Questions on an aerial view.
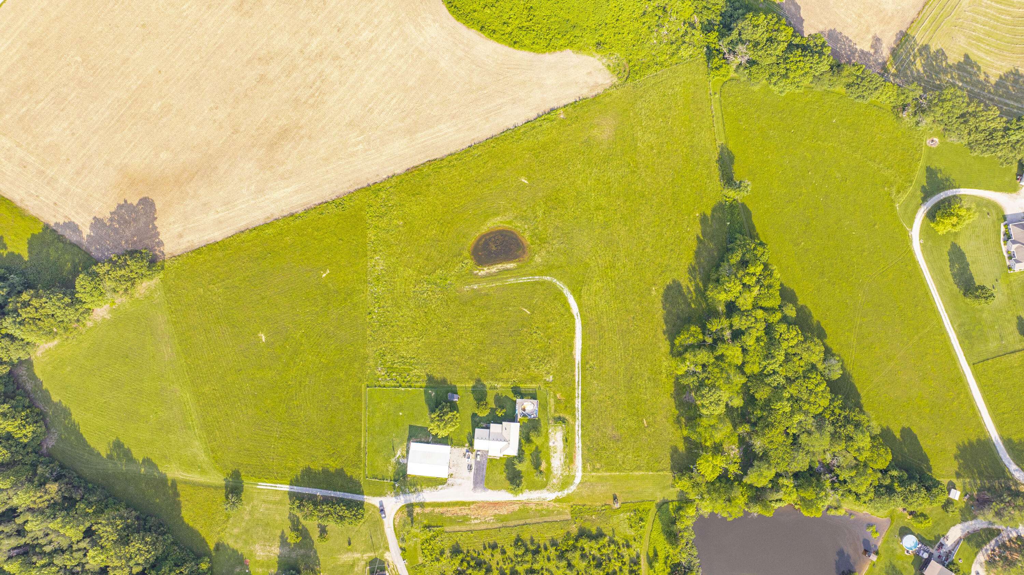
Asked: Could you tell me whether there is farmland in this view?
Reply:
Yes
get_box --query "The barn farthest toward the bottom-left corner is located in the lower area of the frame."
[407,440,451,478]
